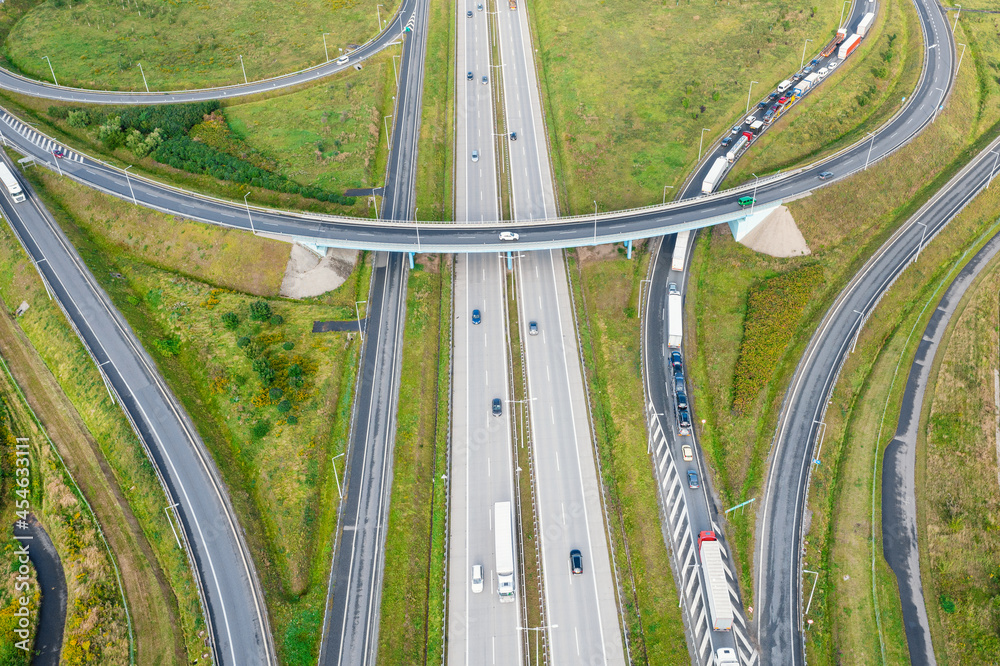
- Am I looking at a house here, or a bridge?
bridge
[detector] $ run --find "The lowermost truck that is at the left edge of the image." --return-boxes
[0,164,25,204]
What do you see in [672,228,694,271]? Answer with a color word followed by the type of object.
white truck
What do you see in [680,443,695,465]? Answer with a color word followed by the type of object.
white car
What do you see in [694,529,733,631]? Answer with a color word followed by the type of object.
white truck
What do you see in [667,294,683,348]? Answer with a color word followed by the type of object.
white vehicle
